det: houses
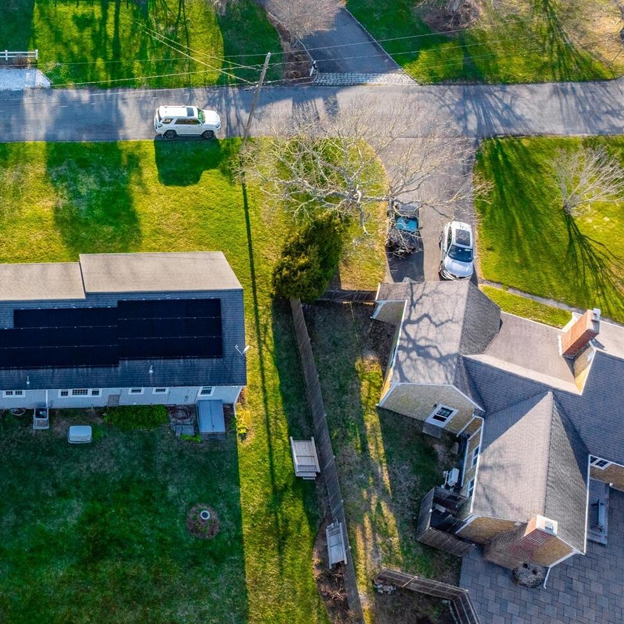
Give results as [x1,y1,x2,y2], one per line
[0,251,249,415]
[371,278,624,580]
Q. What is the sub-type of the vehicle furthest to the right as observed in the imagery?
automobile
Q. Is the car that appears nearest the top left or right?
left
